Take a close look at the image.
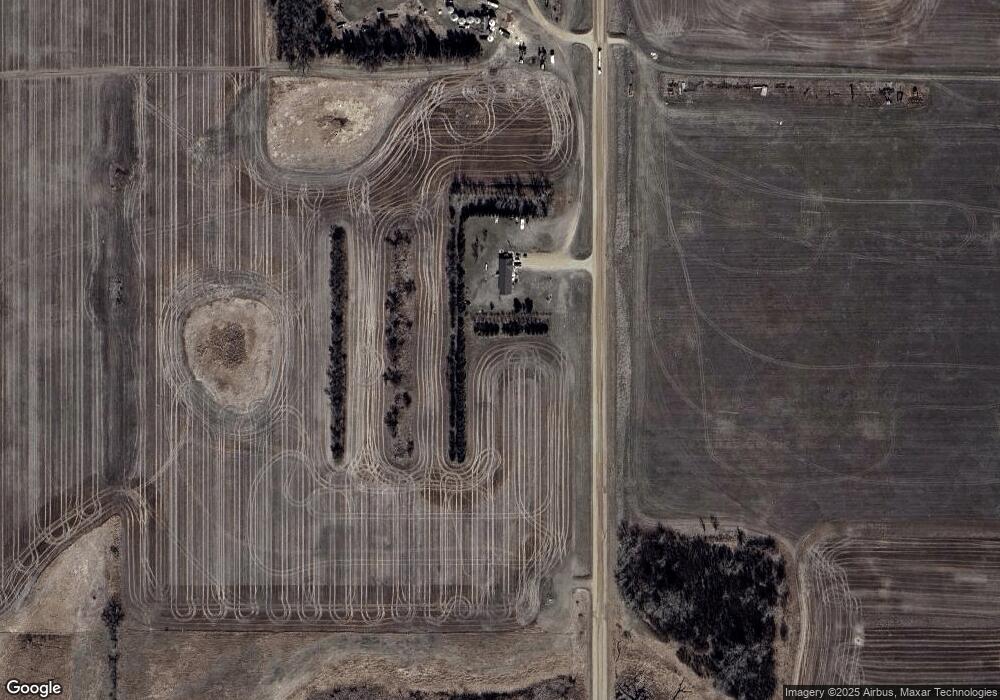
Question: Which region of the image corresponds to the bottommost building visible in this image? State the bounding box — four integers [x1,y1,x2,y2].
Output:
[499,260,514,297]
